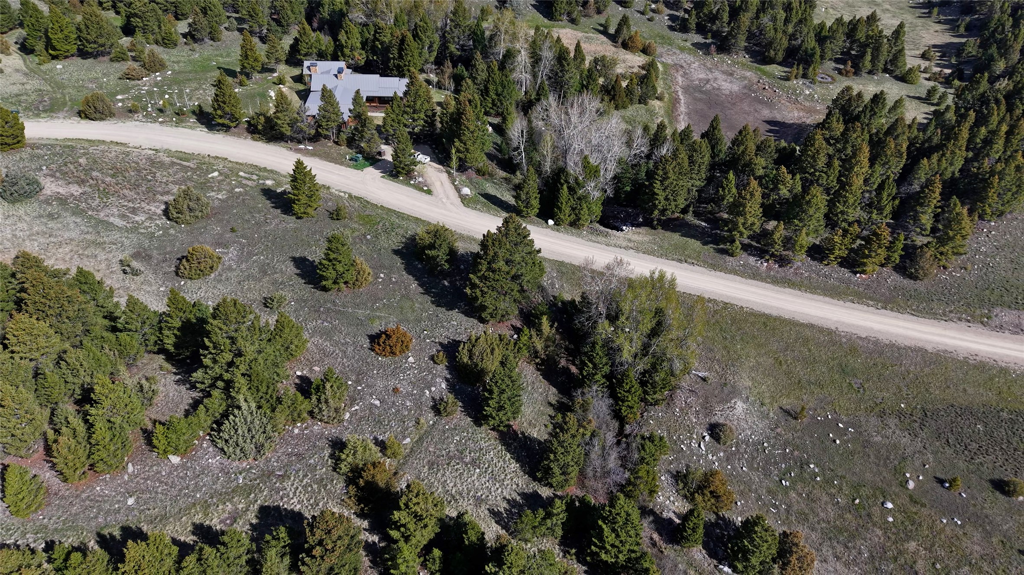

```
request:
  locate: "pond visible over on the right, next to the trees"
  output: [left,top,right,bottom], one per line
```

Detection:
[654,45,822,146]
